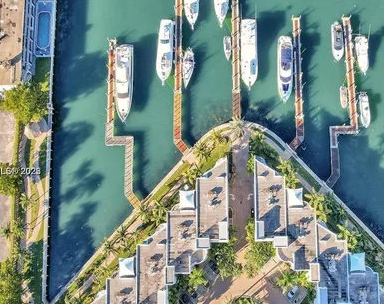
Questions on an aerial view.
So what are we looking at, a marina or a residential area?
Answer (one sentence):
It's a marina.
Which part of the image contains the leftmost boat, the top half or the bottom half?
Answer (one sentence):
The leftmost boat sits in the top half of the picture.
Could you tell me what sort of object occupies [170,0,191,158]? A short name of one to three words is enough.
pier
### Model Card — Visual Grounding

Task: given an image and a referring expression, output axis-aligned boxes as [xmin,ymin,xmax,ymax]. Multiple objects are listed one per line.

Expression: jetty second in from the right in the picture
[285,12,307,153]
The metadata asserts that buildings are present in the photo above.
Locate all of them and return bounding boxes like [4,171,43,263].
[0,0,38,93]
[254,157,384,304]
[89,158,229,304]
